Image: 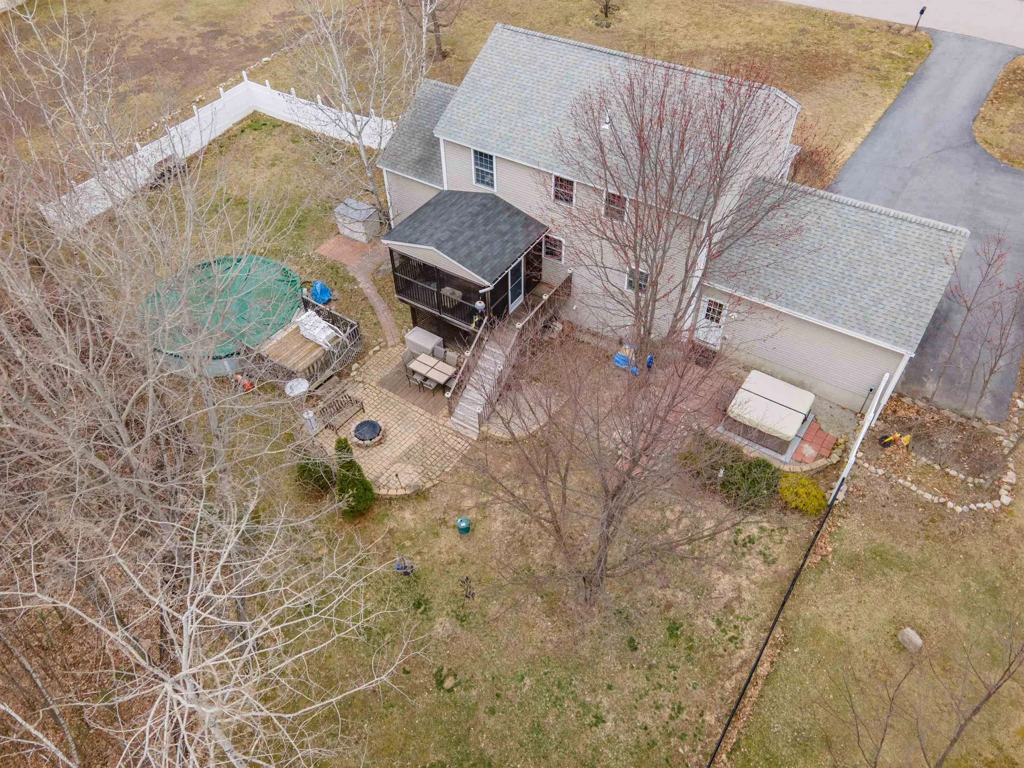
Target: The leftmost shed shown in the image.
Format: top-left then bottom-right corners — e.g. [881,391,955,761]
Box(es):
[329,198,384,250]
